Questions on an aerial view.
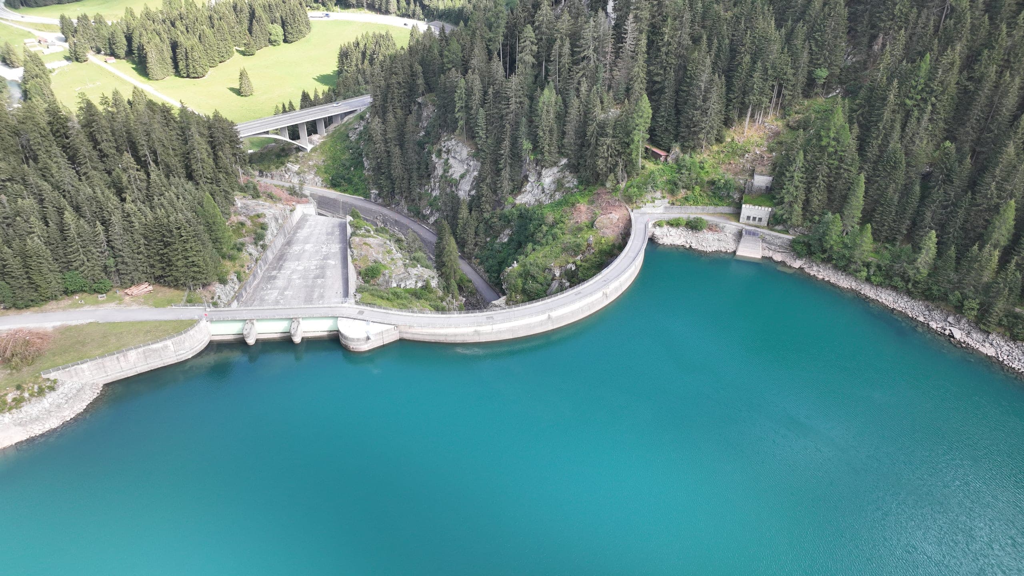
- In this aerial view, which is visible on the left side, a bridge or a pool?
bridge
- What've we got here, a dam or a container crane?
dam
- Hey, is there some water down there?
Yes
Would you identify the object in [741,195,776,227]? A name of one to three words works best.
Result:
building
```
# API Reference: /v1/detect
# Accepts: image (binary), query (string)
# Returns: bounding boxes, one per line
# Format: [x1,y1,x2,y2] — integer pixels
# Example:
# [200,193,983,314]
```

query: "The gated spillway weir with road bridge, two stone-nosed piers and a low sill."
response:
[205,301,355,346]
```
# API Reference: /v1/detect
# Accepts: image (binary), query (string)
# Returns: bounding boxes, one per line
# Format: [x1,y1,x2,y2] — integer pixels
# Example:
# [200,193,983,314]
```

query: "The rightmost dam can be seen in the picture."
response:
[348,210,655,345]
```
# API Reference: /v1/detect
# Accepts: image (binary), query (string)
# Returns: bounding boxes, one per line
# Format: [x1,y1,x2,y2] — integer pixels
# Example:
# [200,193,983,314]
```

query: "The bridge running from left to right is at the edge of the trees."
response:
[224,89,376,152]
